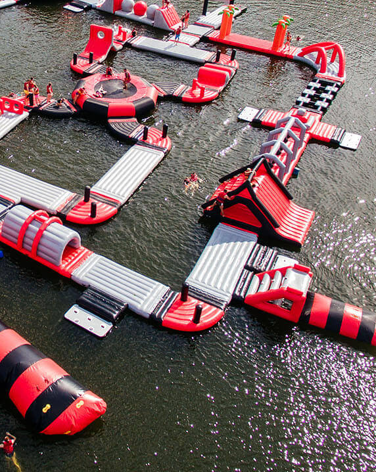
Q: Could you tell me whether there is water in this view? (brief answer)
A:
Yes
